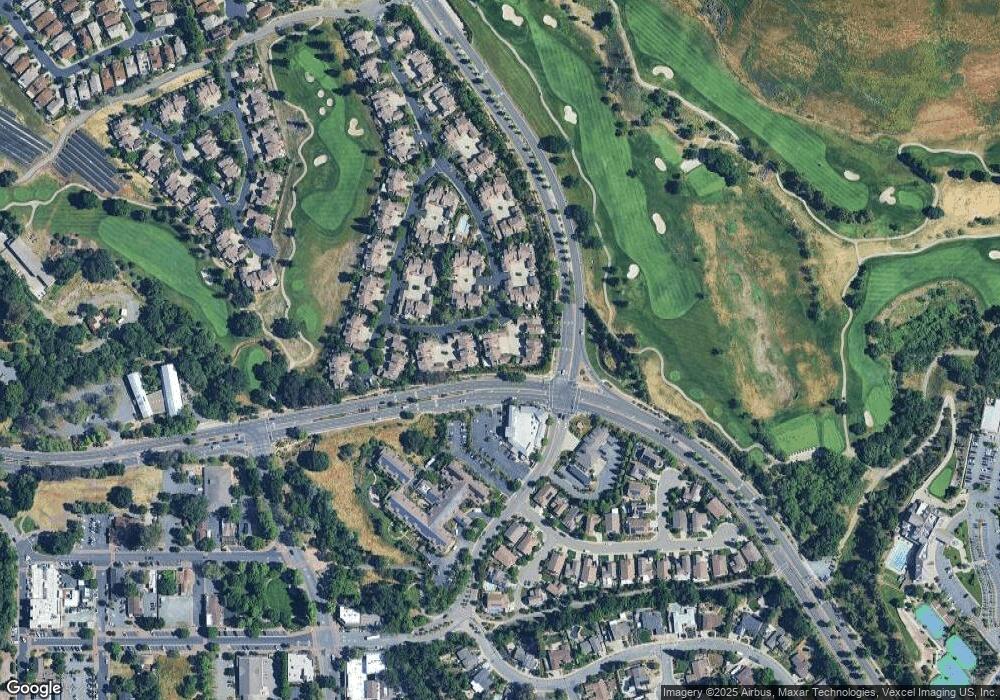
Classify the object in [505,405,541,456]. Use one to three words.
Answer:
building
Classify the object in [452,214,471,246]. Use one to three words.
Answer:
swimming pool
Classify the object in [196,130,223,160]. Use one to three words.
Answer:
house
